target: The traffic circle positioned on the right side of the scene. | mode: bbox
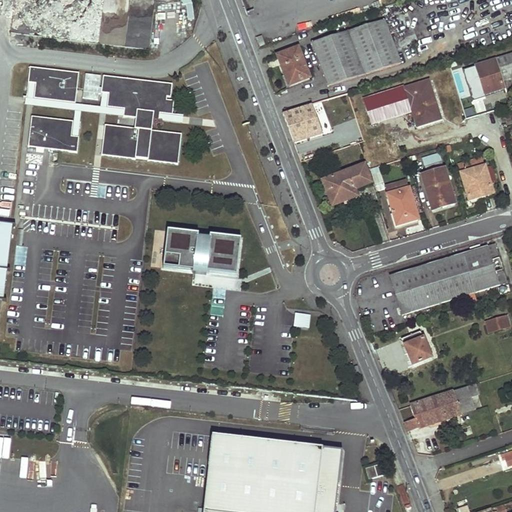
[306,248,354,299]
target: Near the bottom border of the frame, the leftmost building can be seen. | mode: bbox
[202,431,323,512]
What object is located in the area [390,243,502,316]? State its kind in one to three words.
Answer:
shed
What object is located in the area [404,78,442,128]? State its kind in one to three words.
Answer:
house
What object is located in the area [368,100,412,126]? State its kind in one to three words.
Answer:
barn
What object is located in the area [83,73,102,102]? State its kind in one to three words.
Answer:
building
